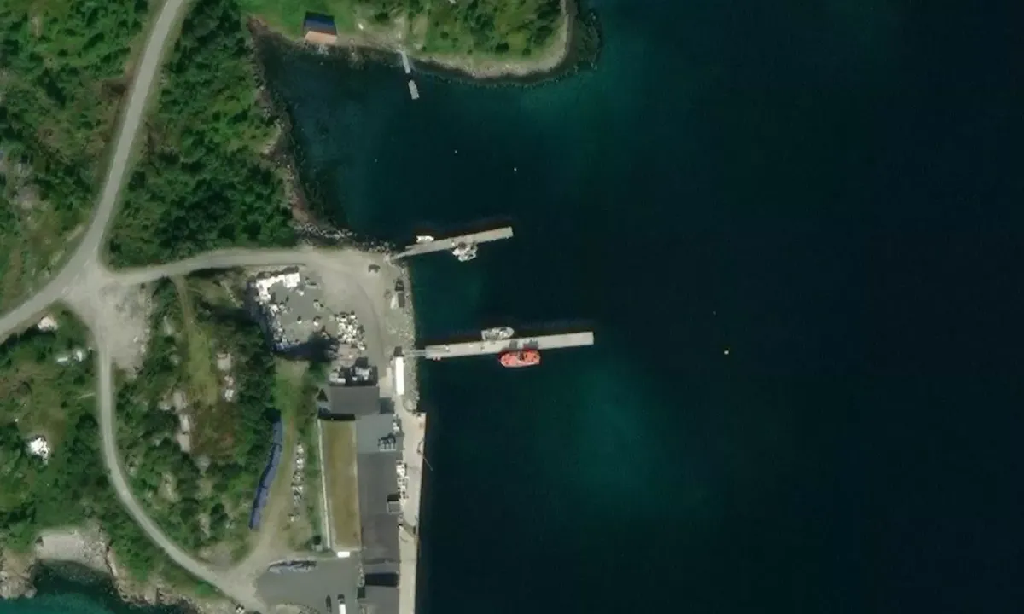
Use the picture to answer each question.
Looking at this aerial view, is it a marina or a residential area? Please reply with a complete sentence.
The picture captures a marina.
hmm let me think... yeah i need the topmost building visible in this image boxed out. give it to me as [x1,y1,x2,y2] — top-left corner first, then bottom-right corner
[305,19,337,45]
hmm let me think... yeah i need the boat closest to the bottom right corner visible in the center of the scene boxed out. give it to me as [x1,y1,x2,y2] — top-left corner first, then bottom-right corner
[498,348,543,367]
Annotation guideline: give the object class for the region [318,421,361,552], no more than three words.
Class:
building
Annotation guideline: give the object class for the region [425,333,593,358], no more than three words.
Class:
pier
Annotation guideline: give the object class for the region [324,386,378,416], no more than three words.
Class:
shed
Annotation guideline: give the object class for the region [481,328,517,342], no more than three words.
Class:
boat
